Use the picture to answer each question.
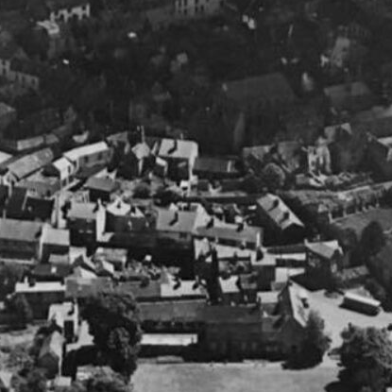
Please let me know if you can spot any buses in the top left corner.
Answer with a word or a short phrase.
No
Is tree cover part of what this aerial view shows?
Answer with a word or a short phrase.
Yes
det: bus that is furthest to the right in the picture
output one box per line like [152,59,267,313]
[343,286,383,311]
